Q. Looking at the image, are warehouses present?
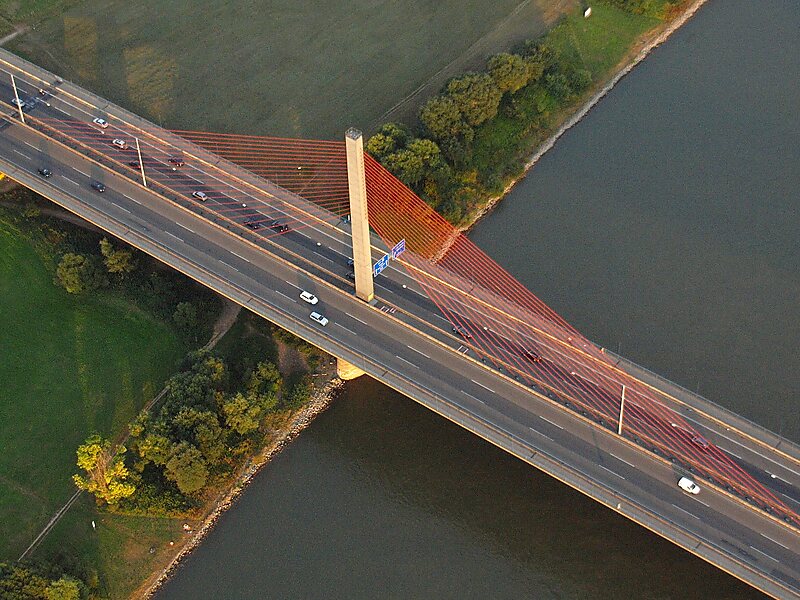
No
